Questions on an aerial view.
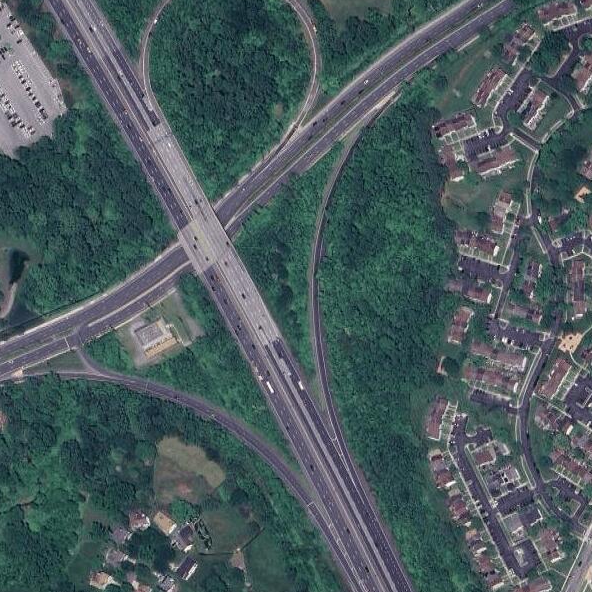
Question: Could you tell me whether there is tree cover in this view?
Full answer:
Yes, some tree cover is visible.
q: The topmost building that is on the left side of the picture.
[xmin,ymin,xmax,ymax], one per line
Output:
[135,317,178,358]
